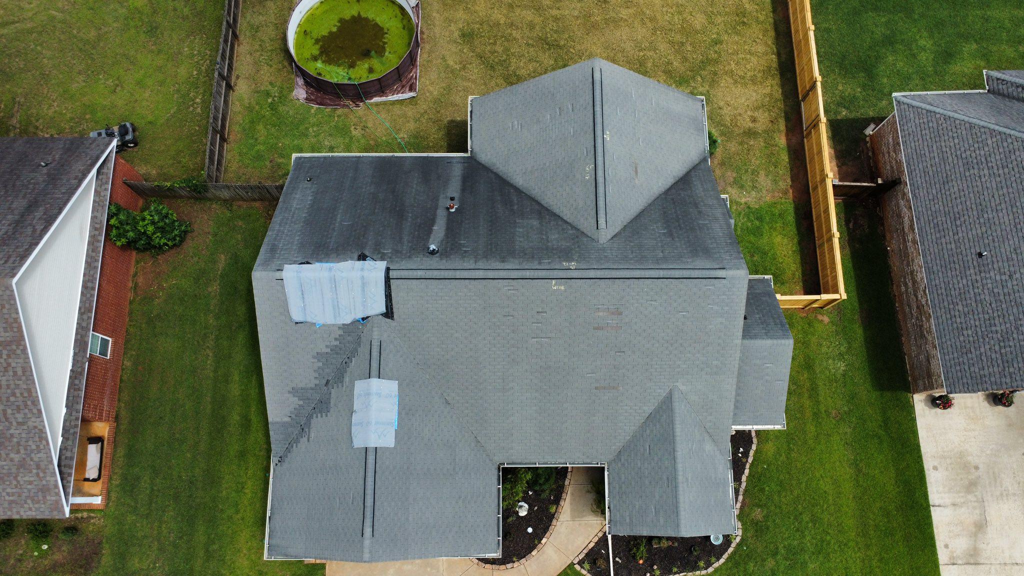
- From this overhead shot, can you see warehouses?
No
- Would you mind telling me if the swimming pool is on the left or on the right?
left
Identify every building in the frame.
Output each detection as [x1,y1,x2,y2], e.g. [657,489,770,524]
[0,139,145,517]
[252,56,795,564]
[872,68,1024,394]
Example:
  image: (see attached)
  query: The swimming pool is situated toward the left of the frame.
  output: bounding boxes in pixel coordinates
[288,0,424,97]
